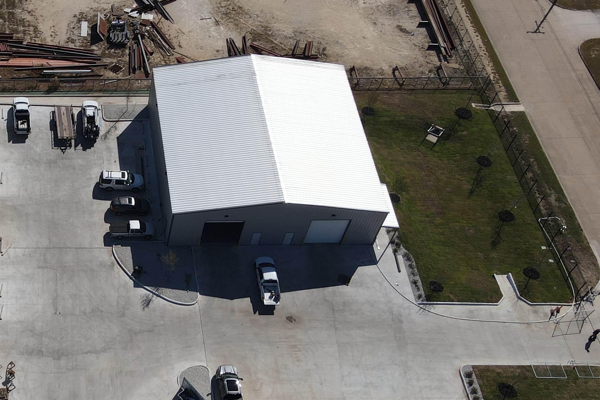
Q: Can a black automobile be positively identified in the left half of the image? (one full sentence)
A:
Yes, looking in the left half of the image, one can make out a black automobile.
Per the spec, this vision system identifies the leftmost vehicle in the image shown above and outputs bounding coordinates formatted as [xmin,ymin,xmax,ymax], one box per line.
[12,97,34,139]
